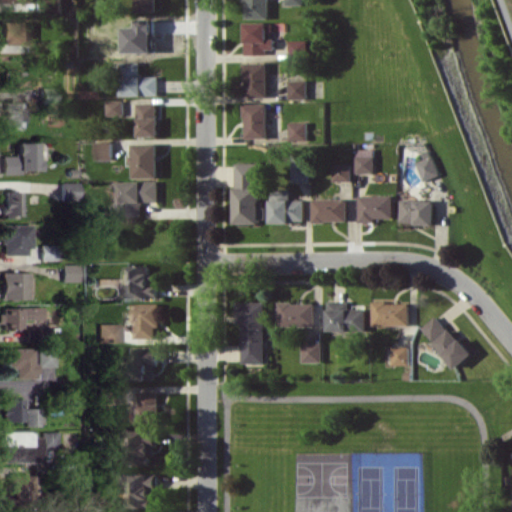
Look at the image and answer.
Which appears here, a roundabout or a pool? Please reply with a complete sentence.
This aerial view contains a pool.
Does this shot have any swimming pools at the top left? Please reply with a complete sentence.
No, the scene shows no swimming pool at the top left.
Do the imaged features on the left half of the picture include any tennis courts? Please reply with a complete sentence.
No, on the left half of the picture there is no tennis court.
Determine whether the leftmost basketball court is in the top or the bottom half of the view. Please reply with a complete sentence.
It is in the bottom half that the leftmost basketball court appears.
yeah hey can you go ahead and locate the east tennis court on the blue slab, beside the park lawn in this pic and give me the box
[388,454,424,512]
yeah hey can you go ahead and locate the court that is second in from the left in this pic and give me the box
[352,454,388,512]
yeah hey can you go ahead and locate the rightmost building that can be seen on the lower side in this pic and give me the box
[424,320,470,370]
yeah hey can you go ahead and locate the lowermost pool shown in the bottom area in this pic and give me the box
[420,352,442,370]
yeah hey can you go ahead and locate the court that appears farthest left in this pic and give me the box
[296,454,351,512]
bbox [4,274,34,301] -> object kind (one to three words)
house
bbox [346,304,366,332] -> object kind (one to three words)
building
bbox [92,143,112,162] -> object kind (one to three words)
building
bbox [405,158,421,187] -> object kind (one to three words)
swimming pool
